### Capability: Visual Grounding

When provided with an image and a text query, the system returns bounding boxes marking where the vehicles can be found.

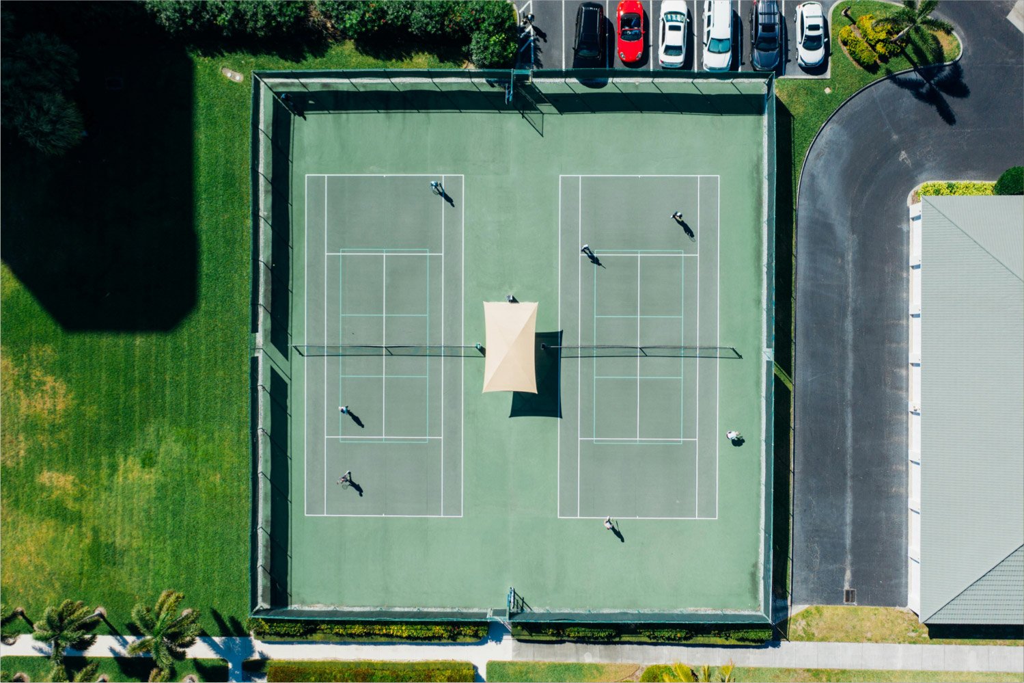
[700,0,736,68]
[748,0,783,68]
[614,0,647,61]
[570,3,605,74]
[658,0,691,66]
[794,0,829,67]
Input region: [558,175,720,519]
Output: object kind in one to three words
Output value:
tennis court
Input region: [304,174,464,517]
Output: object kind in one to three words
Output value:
tennis court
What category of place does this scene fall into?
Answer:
sports ground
